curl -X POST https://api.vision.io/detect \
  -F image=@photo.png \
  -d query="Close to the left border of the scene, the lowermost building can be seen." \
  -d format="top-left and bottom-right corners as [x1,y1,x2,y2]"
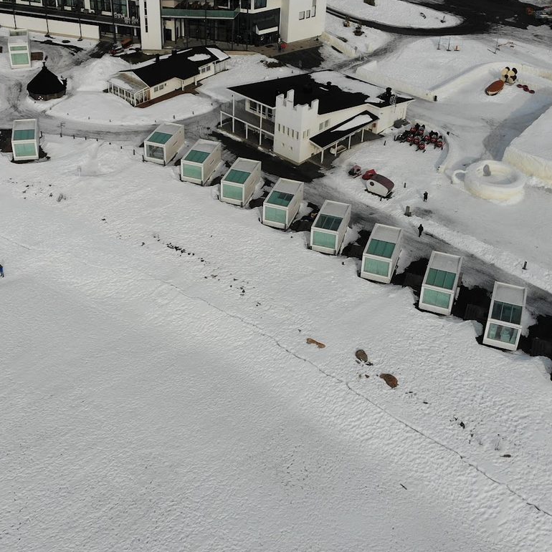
[13,119,40,162]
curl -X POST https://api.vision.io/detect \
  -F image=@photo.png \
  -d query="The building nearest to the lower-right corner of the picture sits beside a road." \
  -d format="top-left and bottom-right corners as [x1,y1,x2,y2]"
[481,282,526,355]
